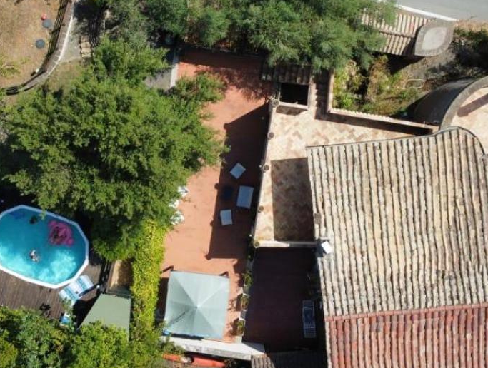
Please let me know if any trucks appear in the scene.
No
